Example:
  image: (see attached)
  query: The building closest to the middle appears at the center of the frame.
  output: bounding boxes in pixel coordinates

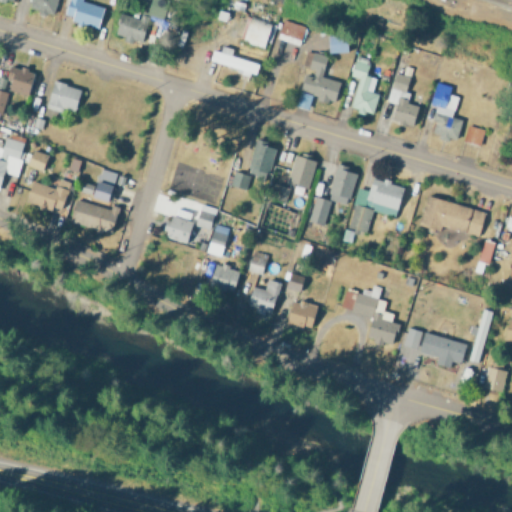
[249,252,268,275]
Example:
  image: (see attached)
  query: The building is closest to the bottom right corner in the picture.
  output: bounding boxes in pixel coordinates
[488,368,510,393]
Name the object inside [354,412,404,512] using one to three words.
bridge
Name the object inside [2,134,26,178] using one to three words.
house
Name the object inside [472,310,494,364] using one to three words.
barn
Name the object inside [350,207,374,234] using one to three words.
building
